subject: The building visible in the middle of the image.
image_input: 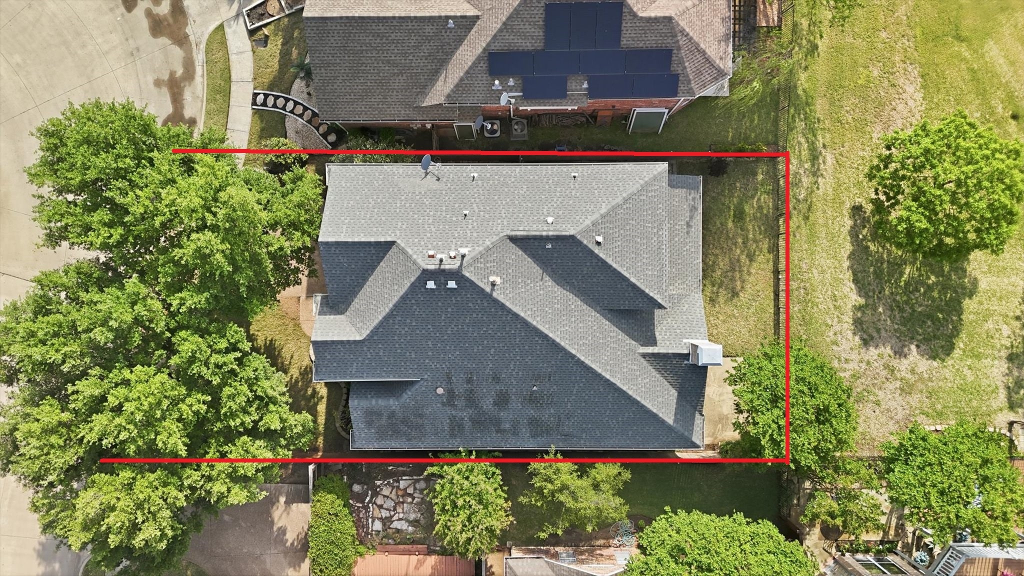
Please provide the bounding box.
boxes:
[312,161,722,450]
